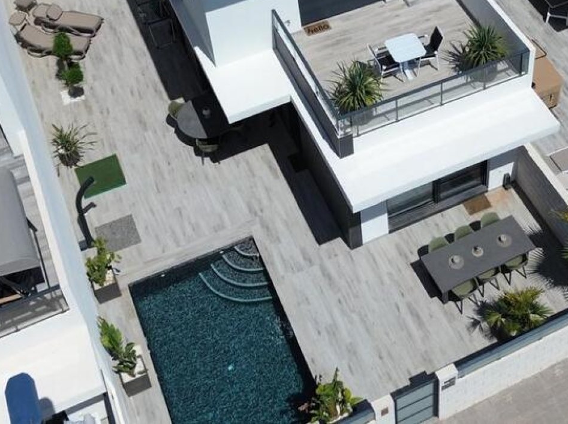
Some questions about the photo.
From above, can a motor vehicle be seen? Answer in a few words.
No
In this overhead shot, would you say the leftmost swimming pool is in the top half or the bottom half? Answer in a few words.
bottom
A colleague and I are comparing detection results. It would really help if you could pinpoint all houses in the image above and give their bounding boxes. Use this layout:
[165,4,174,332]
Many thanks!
[160,0,560,250]
[0,0,120,424]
